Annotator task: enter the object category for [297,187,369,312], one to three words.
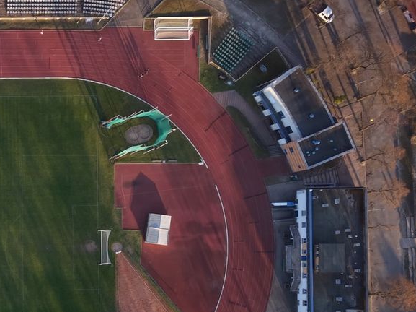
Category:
building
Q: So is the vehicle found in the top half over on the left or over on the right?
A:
right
